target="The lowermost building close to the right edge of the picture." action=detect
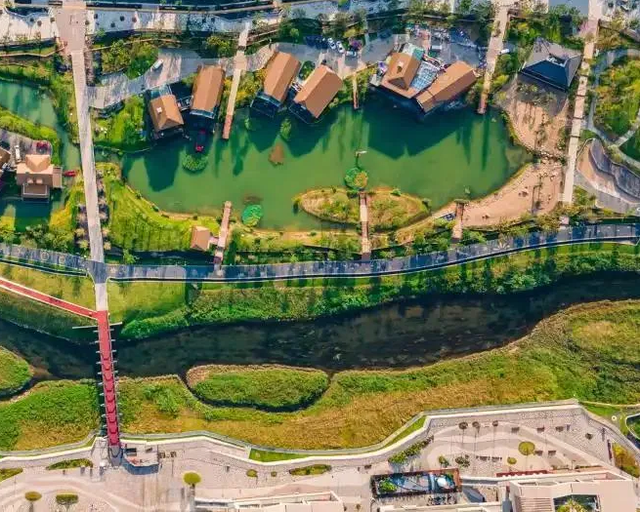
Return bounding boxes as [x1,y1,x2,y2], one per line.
[454,466,640,512]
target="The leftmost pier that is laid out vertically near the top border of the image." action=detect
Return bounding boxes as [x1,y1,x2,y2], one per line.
[222,23,251,138]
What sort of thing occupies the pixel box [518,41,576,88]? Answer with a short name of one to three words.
house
